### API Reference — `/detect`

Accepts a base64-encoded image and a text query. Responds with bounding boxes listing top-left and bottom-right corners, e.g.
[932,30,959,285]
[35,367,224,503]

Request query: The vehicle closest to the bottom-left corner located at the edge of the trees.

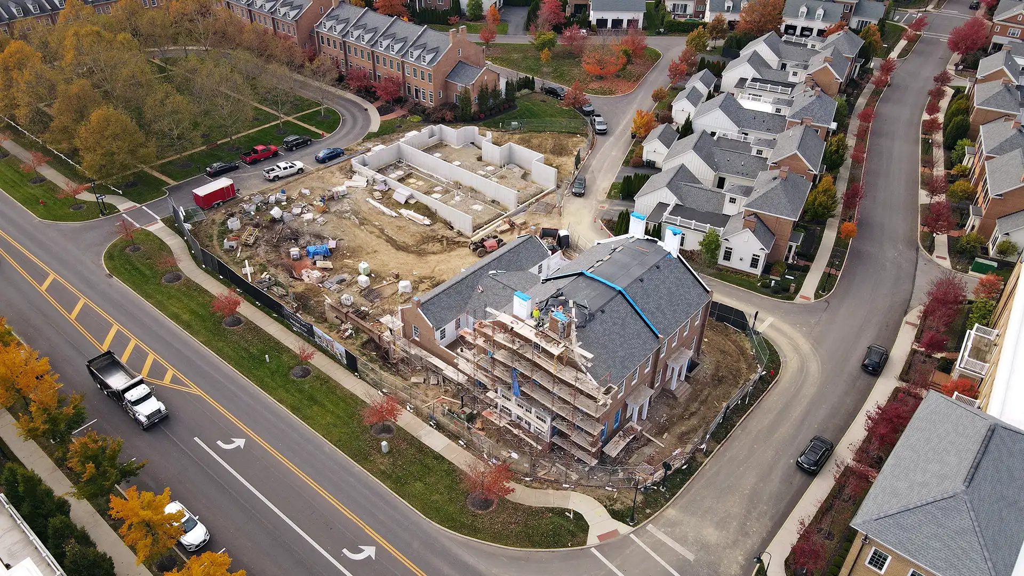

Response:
[157,491,208,546]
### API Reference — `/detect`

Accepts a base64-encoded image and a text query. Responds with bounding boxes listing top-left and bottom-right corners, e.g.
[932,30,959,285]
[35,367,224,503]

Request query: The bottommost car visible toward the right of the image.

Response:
[795,430,838,475]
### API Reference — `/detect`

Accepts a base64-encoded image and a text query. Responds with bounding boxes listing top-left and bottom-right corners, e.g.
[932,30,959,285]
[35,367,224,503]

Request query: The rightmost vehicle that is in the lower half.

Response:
[862,341,895,376]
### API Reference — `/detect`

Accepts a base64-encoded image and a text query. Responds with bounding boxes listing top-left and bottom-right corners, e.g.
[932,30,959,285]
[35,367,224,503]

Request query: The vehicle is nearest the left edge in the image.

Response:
[82,349,167,429]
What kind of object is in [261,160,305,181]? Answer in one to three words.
truck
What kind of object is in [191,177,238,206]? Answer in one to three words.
trailer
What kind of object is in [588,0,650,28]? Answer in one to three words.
house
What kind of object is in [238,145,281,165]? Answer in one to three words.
vehicle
